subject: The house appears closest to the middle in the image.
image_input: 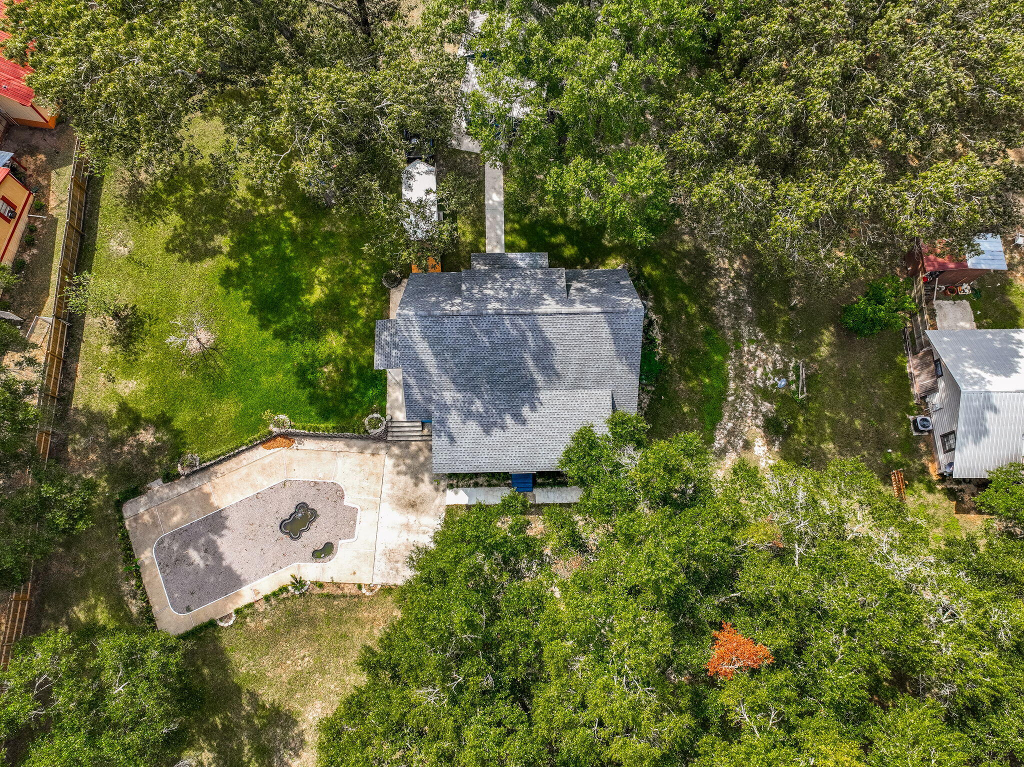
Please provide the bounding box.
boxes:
[373,253,648,500]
